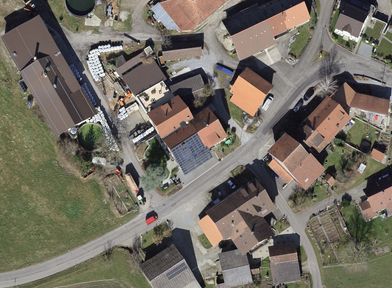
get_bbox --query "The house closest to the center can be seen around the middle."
[148,97,228,176]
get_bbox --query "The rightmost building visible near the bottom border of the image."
[268,242,302,286]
